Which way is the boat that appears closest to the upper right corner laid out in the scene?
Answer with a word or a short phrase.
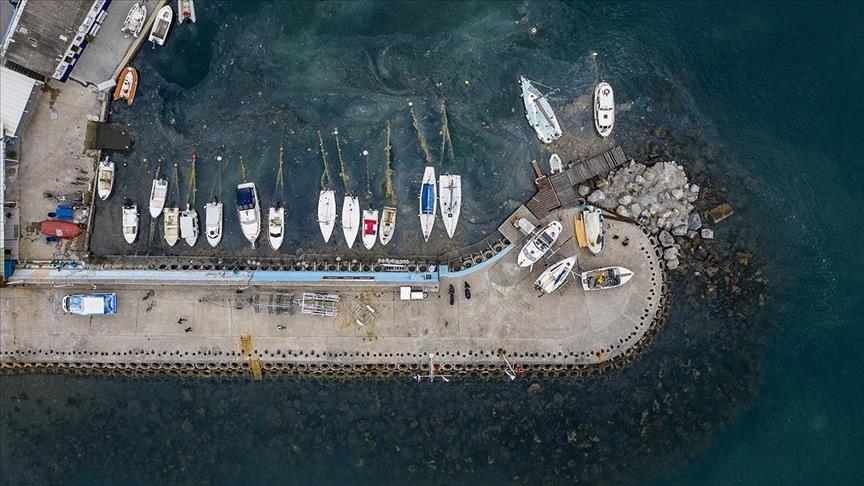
vertically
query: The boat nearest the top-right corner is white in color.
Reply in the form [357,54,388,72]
[592,82,614,140]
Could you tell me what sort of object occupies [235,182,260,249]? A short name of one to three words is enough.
boat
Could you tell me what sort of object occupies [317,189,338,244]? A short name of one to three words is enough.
boat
